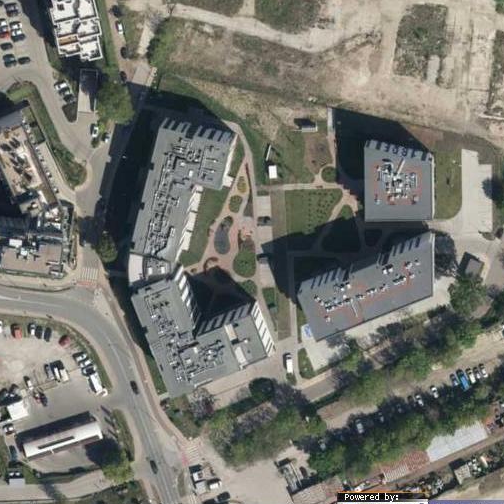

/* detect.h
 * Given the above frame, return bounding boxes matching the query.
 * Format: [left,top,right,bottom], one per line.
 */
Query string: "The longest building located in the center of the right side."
[298,231,434,341]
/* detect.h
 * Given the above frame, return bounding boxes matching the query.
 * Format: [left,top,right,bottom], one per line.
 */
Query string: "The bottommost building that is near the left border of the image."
[23,419,102,458]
